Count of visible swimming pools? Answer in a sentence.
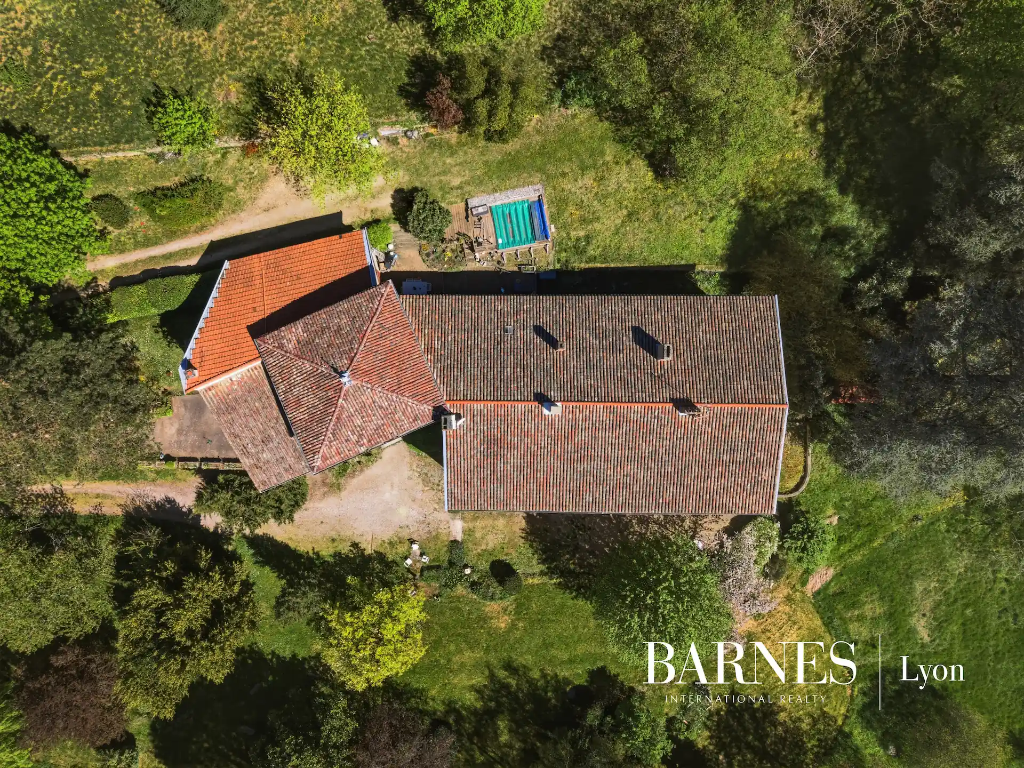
My tally gives 1 swimming pool in this photo.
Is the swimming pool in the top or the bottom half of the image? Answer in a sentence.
The swimming pool is in the top half of the image.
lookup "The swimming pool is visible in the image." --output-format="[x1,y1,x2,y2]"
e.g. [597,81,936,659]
[488,193,554,262]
